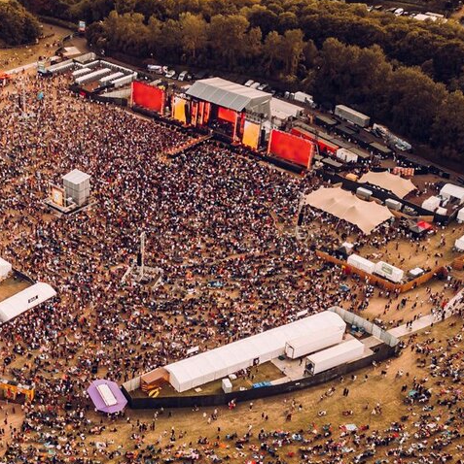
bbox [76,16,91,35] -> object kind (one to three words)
vehicle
